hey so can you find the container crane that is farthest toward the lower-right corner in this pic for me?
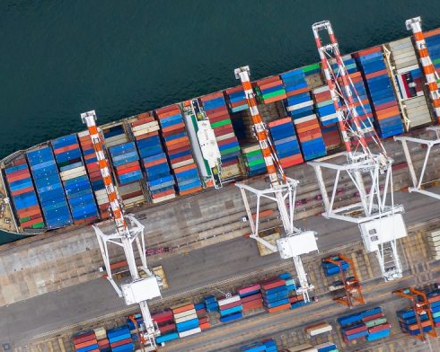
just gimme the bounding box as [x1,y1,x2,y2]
[391,286,440,345]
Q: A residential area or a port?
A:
port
